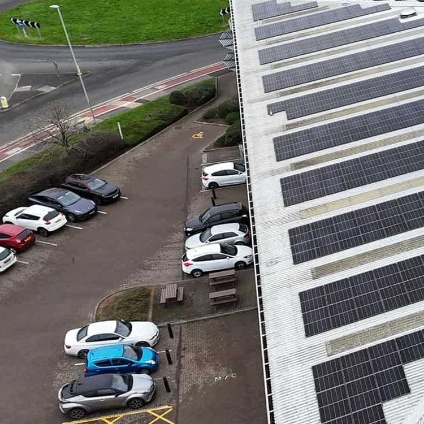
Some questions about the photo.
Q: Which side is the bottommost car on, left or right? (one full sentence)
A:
It is on the left.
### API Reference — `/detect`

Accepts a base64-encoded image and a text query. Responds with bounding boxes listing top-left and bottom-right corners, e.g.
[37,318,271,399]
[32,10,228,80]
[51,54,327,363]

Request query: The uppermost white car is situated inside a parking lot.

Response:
[199,162,244,189]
